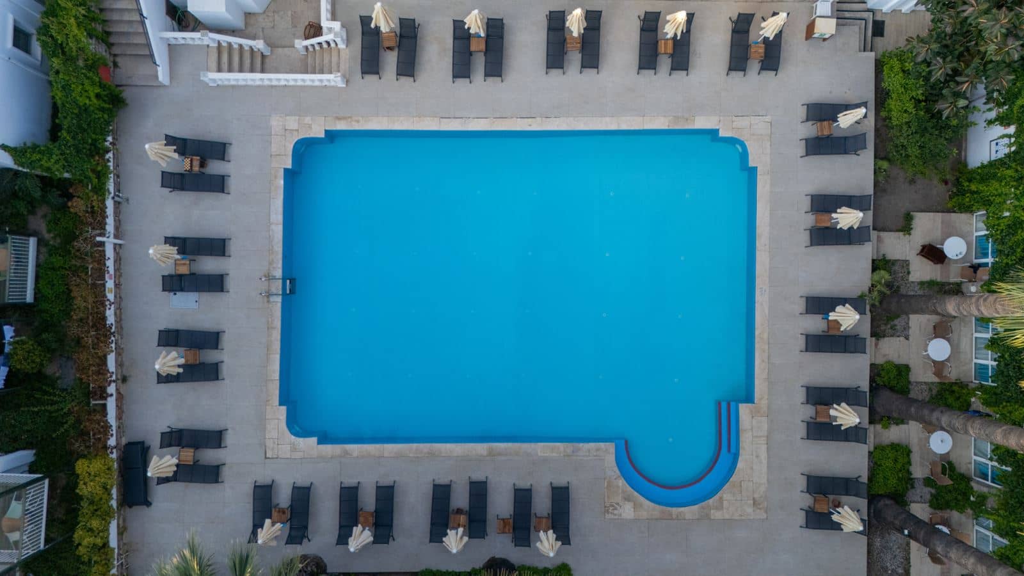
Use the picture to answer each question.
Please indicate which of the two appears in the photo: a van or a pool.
pool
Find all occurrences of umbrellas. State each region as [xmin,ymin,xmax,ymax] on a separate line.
[824,305,860,329]
[467,10,488,40]
[156,353,191,375]
[565,9,587,40]
[826,209,862,231]
[375,2,399,33]
[662,11,686,41]
[757,14,786,44]
[148,455,180,477]
[539,529,560,556]
[445,521,469,552]
[825,405,859,426]
[827,503,862,531]
[831,108,865,131]
[349,523,371,551]
[258,517,287,543]
[150,241,186,264]
[145,143,182,164]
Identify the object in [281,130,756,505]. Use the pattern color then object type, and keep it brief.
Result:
blue swimming pool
